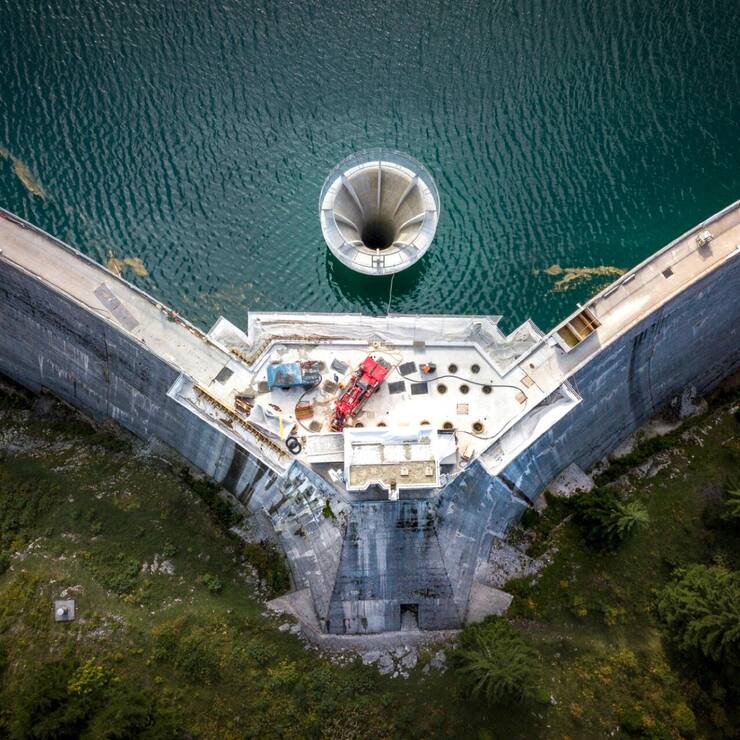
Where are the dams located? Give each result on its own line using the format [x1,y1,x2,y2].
[0,199,740,632]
